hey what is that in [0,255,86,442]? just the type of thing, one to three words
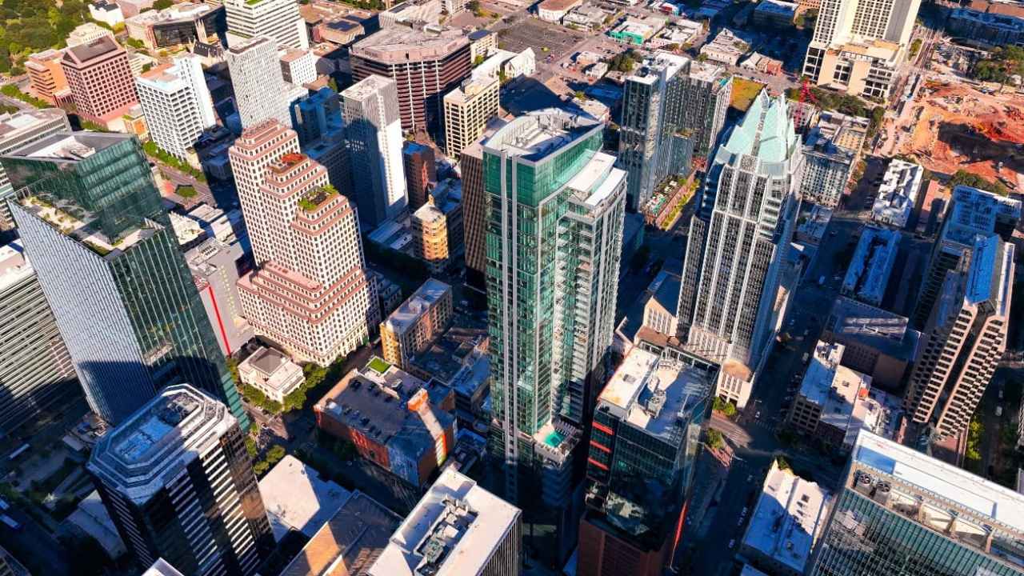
building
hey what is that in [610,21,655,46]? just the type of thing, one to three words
building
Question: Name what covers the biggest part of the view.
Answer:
buildings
